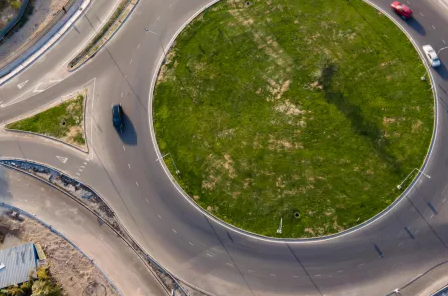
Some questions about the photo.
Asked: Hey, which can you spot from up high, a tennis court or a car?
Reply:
car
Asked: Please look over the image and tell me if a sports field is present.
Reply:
No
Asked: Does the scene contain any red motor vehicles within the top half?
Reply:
Yes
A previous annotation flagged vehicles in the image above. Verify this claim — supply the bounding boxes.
[390,1,413,21]
[111,105,126,132]
[422,46,442,68]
